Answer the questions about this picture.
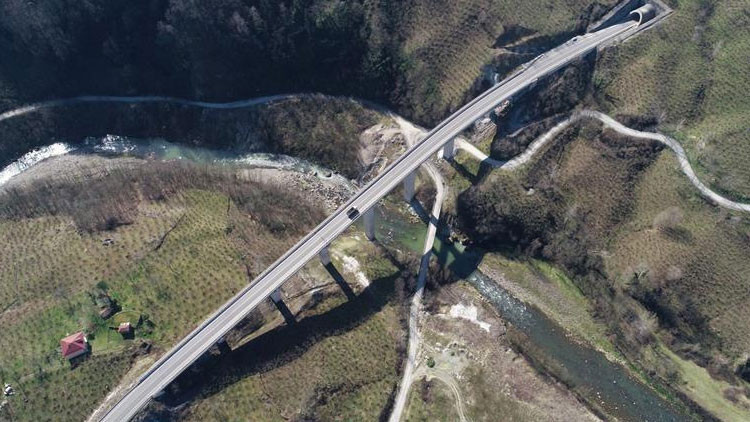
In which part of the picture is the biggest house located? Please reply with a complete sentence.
You can find the biggest house in the bottom left area of the picture.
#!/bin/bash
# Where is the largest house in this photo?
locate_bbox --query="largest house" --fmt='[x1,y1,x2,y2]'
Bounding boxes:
[54,331,83,359]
